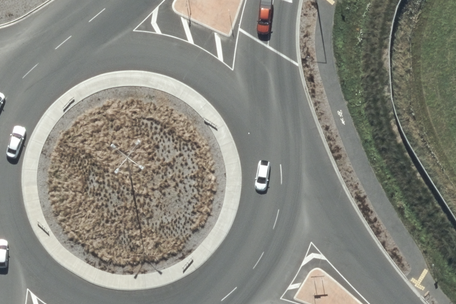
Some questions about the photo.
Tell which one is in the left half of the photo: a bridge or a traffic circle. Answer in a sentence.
What appears in the left half of the photo is a traffic circle.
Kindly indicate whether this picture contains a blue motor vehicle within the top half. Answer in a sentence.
No, there's no blue motor vehicle to be seen within the top half.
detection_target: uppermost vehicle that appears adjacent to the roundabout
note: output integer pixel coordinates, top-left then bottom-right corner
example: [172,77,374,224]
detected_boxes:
[6,126,25,160]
